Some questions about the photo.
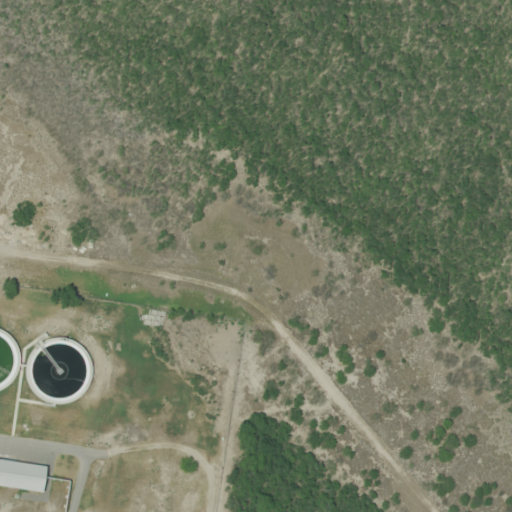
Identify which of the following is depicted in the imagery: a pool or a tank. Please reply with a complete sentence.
Visible in the photo is a tank.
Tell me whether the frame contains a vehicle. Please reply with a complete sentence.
No, I find no vehicle anywhere in the image.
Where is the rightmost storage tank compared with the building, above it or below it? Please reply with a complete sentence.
You can see the rightmost storage tank above the building in the frame.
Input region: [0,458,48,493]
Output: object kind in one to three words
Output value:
building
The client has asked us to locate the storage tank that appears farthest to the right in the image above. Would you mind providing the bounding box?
[26,337,94,404]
